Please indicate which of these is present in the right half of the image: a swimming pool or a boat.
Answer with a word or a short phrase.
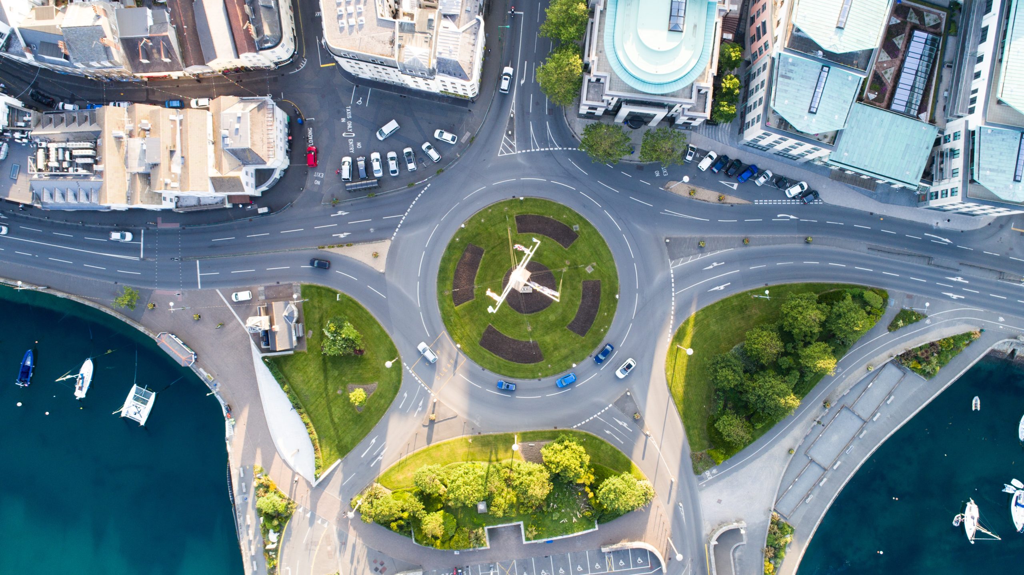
boat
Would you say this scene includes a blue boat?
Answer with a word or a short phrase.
Yes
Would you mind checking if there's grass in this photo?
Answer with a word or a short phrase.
Yes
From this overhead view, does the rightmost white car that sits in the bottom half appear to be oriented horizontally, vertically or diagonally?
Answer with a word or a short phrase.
diagonally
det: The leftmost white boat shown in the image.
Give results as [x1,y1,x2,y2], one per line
[58,359,92,399]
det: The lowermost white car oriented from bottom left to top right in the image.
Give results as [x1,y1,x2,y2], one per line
[615,356,636,380]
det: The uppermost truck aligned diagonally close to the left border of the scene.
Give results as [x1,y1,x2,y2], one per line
[29,88,57,109]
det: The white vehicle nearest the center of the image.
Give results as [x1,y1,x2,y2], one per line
[418,340,439,364]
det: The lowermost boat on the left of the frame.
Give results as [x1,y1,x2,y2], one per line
[114,384,156,426]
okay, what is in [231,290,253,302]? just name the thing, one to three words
vehicle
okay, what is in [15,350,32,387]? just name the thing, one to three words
boat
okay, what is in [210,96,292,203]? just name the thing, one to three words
house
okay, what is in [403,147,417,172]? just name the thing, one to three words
car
